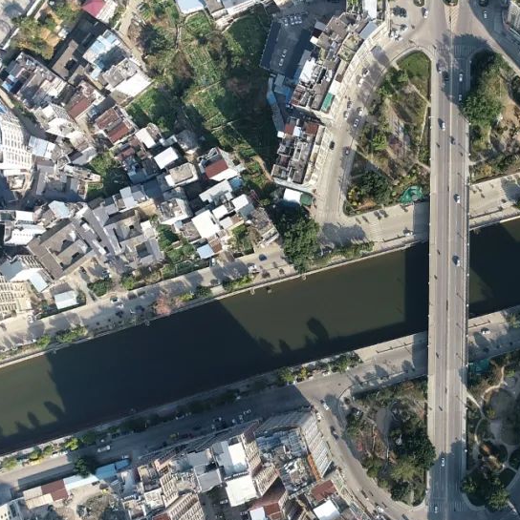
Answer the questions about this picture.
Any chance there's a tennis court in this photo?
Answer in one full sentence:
No, no tennis court is visible in the view.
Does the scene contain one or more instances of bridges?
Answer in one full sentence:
Yes, the frame does contain a bridge.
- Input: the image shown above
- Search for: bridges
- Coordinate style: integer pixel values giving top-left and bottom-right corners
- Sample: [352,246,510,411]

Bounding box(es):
[427,67,471,465]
